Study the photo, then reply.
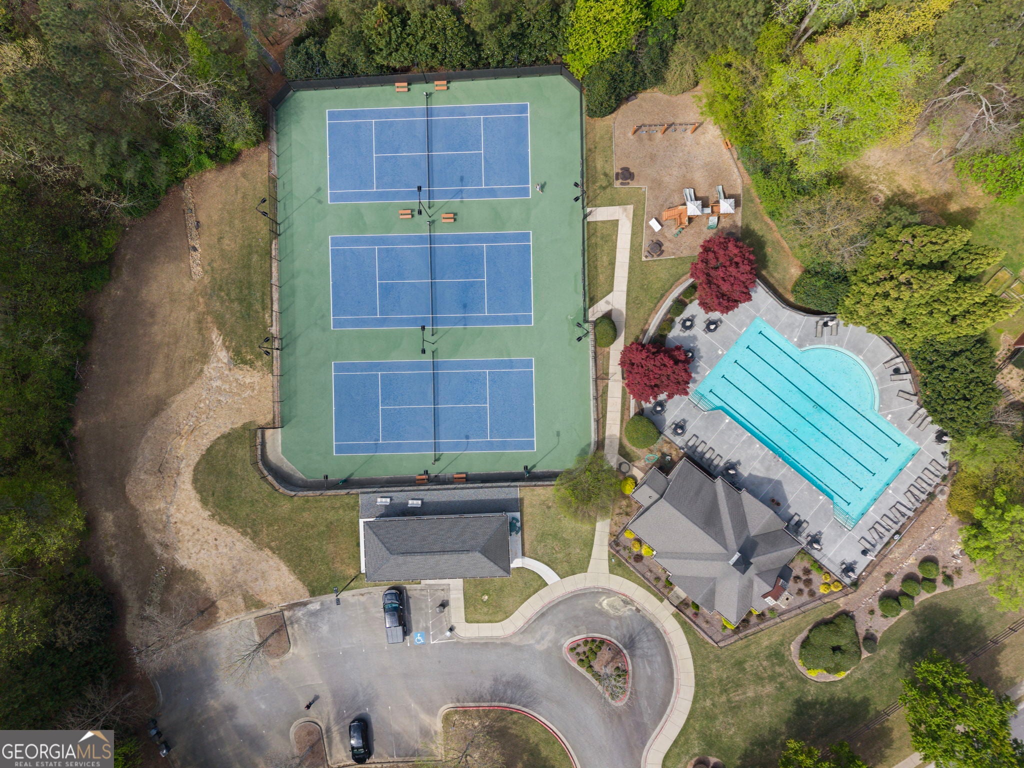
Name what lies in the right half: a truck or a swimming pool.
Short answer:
swimming pool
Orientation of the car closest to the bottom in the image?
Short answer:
up and down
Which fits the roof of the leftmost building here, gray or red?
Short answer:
gray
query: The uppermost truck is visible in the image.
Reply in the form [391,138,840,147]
[381,590,405,644]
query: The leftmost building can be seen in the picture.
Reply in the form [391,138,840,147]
[363,513,511,583]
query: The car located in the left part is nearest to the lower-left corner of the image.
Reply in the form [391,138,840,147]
[350,718,371,761]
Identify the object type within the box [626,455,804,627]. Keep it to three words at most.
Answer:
building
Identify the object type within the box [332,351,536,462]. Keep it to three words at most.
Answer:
tennis court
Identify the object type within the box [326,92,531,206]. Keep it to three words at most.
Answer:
tennis court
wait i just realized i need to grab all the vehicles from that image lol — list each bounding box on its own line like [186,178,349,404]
[350,718,371,761]
[381,590,405,644]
